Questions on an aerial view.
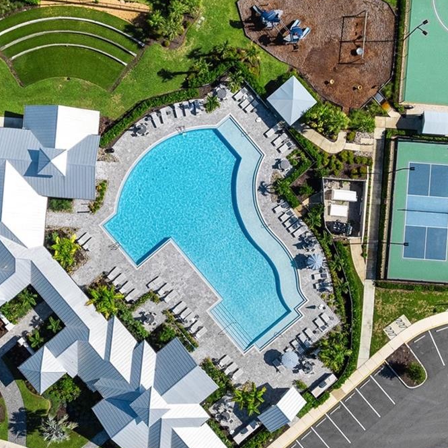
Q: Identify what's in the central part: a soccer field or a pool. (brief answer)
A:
pool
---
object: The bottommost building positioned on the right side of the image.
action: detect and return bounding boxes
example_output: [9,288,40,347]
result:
[258,387,307,435]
